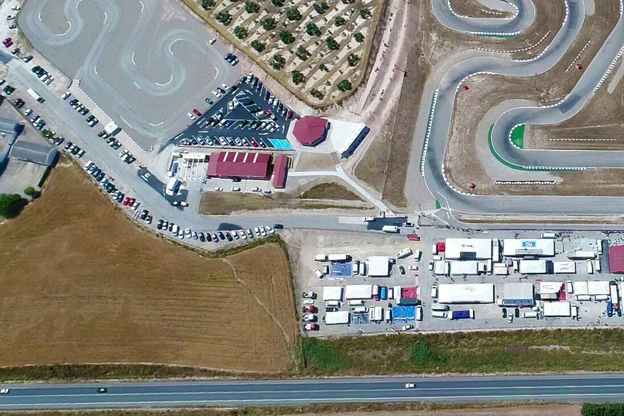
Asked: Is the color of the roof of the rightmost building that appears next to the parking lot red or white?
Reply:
red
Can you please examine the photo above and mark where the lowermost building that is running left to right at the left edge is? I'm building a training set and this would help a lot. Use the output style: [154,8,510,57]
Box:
[9,141,62,170]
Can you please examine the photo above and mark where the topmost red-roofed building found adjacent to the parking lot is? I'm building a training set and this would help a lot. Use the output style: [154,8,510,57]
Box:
[293,113,329,146]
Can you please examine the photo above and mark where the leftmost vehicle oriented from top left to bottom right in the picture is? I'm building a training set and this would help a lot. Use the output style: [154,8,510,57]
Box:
[28,89,46,103]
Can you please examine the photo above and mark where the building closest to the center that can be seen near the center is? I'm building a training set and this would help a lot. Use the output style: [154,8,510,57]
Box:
[273,156,289,190]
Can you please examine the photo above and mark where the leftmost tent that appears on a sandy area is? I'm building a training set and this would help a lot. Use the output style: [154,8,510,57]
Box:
[368,257,389,276]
